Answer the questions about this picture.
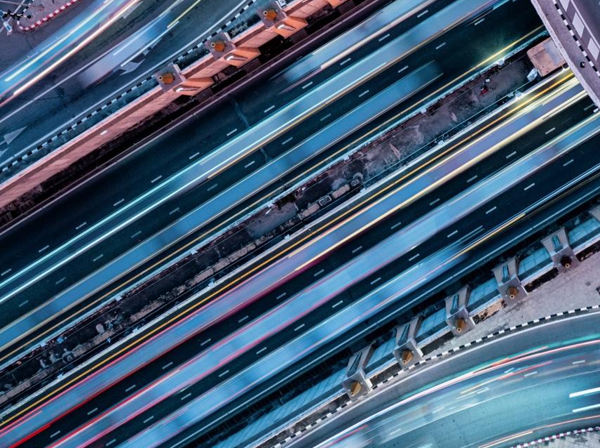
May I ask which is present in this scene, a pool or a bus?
bus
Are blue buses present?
Yes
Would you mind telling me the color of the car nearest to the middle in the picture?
blue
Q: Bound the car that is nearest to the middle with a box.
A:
[258,245,319,293]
